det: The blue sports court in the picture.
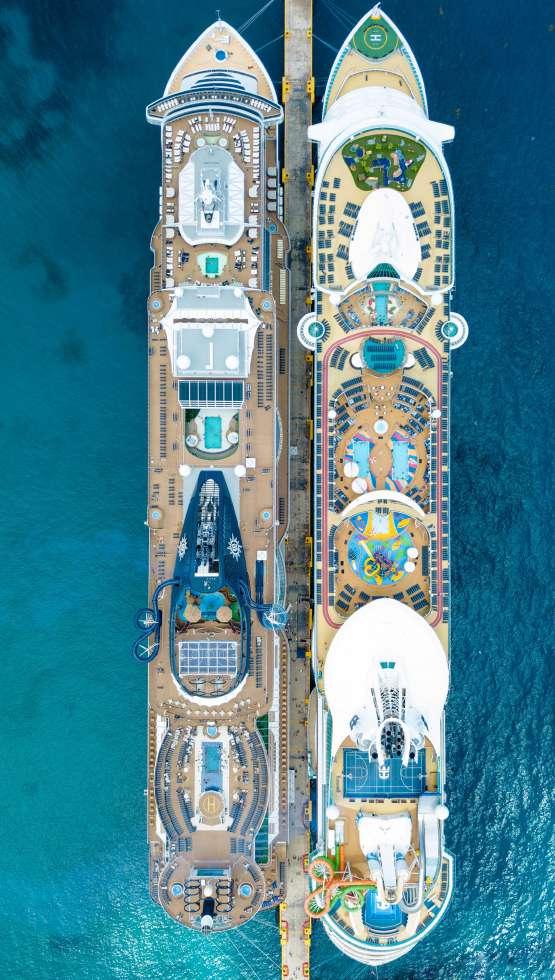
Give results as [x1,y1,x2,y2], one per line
[343,748,425,793]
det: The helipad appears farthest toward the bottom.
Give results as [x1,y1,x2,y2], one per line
[198,791,225,817]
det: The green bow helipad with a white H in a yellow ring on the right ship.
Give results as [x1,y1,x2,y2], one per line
[345,14,405,60]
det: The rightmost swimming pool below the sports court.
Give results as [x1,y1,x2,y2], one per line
[360,890,410,931]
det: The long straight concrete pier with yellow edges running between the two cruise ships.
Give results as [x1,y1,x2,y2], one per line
[281,0,312,980]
